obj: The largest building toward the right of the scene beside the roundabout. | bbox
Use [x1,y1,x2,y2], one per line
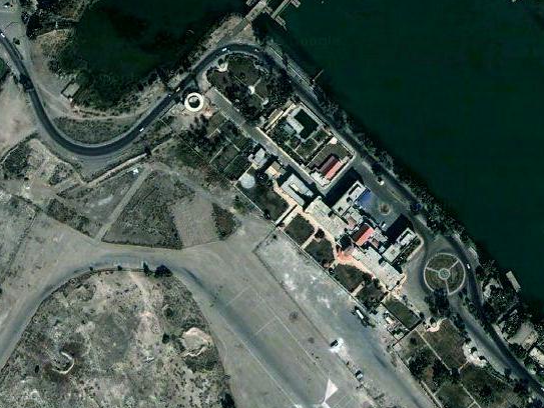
[352,247,403,290]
